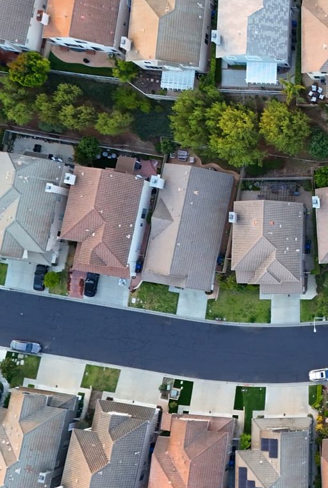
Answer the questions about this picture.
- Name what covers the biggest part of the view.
buildings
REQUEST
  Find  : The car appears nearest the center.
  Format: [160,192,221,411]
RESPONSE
[85,280,99,297]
